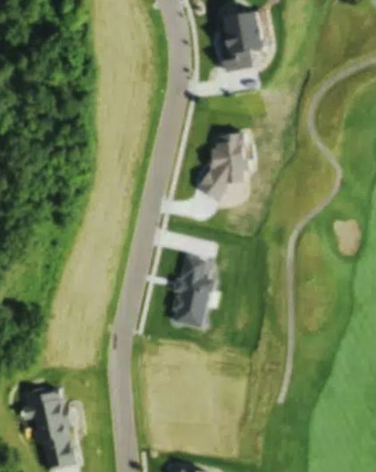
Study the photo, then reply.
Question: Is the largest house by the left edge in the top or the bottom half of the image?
bottom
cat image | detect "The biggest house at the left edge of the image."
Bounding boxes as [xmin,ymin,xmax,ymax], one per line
[17,385,77,469]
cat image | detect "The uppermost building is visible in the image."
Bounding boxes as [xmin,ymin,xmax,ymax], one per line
[216,9,264,73]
